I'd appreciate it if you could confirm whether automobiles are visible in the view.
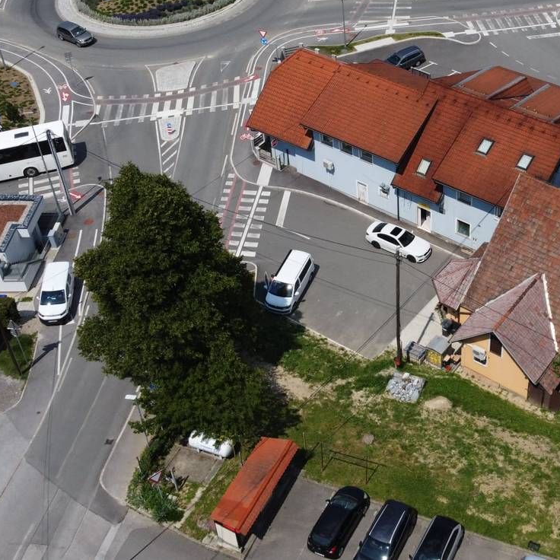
Yes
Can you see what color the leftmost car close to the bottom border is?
black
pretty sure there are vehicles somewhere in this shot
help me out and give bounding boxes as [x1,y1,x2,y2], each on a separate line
[262,251,315,315]
[353,496,421,560]
[524,545,560,560]
[386,45,427,71]
[40,262,77,323]
[304,487,373,560]
[415,510,477,560]
[365,224,430,259]
[0,119,70,175]
[57,21,96,51]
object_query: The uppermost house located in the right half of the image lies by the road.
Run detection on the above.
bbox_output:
[246,49,560,251]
